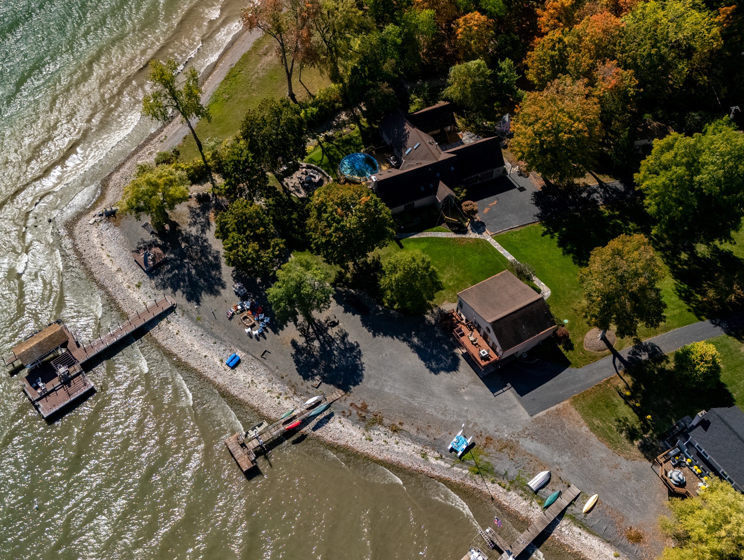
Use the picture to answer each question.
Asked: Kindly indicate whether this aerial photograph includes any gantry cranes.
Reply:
No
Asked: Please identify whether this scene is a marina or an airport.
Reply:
marina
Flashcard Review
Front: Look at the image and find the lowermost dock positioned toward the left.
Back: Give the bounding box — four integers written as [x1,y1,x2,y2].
[225,390,347,476]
